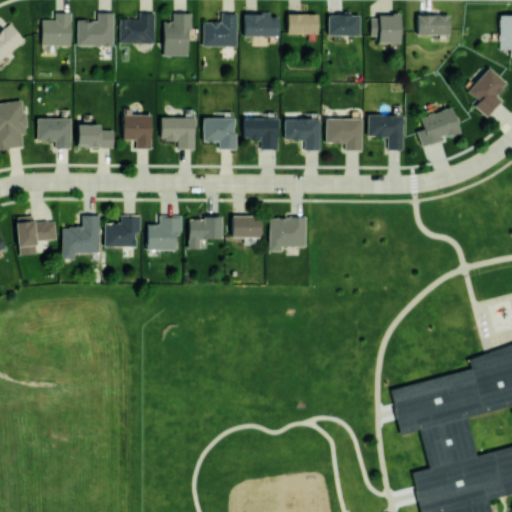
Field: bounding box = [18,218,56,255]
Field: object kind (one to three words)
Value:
house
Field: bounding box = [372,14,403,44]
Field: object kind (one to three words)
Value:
house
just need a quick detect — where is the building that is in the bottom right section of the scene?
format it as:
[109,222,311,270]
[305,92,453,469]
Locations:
[392,342,512,512]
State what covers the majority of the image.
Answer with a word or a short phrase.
grass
